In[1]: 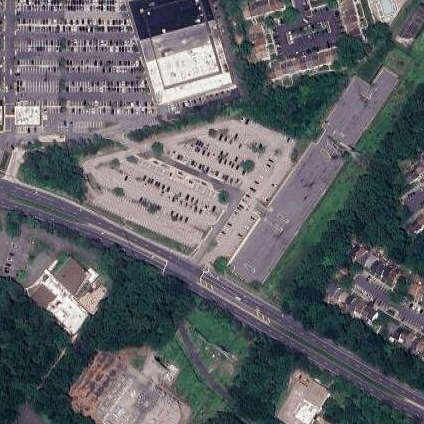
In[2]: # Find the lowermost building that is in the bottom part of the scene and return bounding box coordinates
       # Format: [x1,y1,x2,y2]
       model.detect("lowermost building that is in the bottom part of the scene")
[294,398,323,424]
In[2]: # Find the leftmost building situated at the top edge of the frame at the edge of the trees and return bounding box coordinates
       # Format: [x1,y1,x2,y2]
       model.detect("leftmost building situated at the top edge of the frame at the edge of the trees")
[129,0,237,106]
